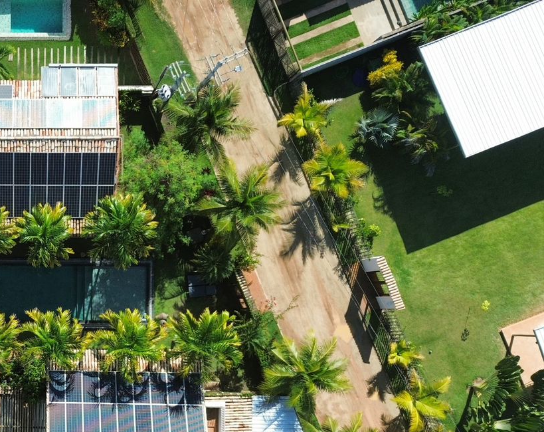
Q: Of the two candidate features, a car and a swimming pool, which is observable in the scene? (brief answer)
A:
swimming pool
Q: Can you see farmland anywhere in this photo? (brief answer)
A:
No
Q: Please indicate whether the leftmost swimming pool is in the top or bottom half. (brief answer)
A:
top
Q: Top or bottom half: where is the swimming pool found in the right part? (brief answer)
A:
top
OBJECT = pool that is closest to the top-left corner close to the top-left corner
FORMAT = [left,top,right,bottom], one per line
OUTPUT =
[0,0,71,39]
